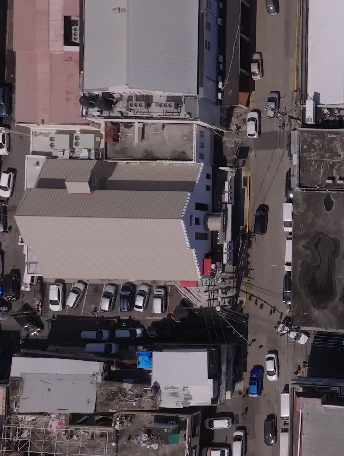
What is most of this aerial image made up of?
buildings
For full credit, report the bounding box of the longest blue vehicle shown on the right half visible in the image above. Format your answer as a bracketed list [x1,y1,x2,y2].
[249,365,264,400]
